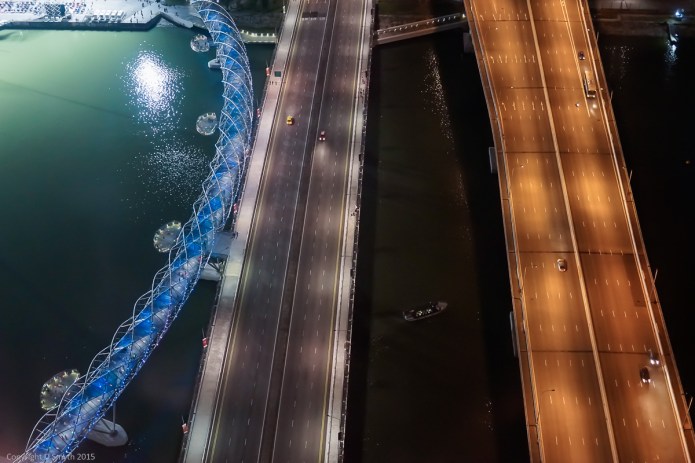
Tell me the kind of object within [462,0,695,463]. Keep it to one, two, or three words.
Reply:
bridge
